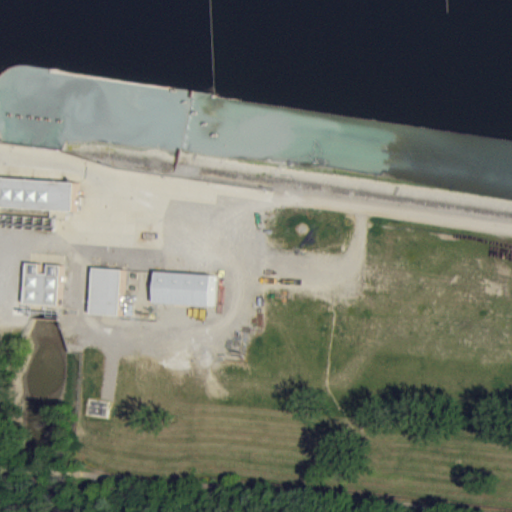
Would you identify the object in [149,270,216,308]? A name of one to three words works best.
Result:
shed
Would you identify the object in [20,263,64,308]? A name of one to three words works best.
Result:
house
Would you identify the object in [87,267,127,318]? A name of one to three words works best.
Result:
building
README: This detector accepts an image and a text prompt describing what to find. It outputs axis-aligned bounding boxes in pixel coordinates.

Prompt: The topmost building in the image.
[0,178,78,213]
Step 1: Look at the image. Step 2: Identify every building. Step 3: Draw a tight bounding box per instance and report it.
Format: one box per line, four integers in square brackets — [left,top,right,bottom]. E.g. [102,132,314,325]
[87,267,127,318]
[149,270,216,308]
[20,263,64,308]
[0,178,78,213]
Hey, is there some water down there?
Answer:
Yes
